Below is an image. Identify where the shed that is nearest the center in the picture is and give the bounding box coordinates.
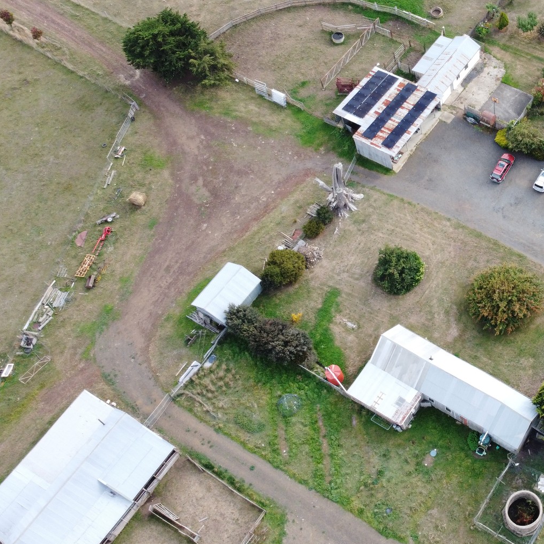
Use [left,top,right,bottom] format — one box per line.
[191,262,267,333]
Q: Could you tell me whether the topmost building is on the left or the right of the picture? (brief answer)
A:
right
